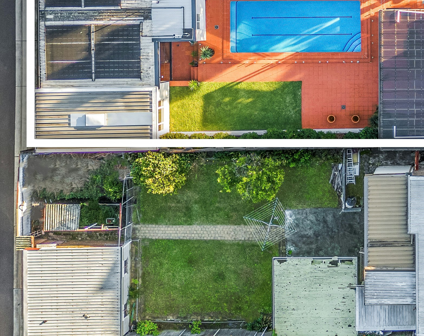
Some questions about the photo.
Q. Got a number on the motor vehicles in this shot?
0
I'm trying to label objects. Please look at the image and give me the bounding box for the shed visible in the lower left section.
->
[23,240,131,336]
